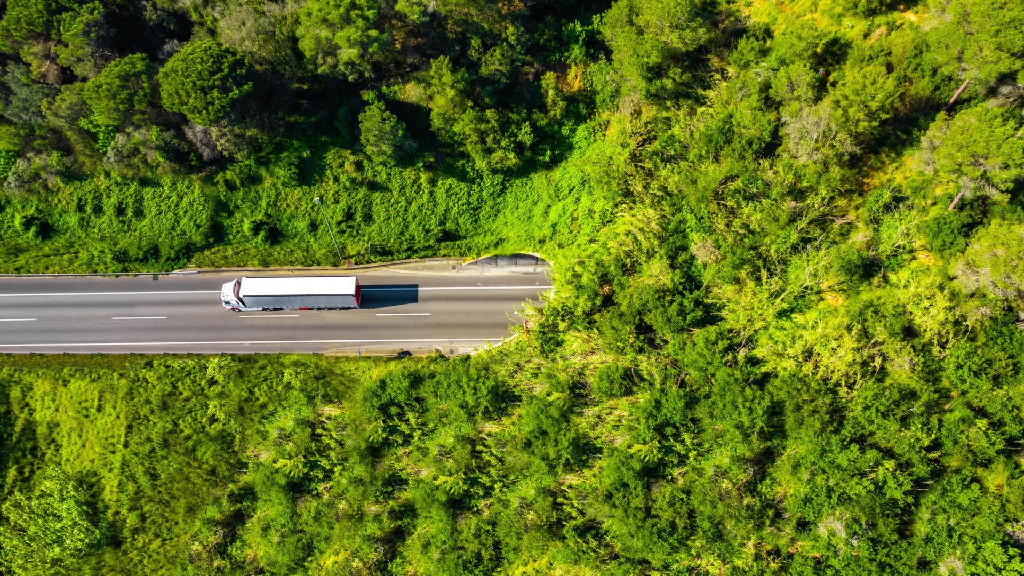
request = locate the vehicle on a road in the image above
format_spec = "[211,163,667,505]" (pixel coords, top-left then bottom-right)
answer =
[220,276,362,311]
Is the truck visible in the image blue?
No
